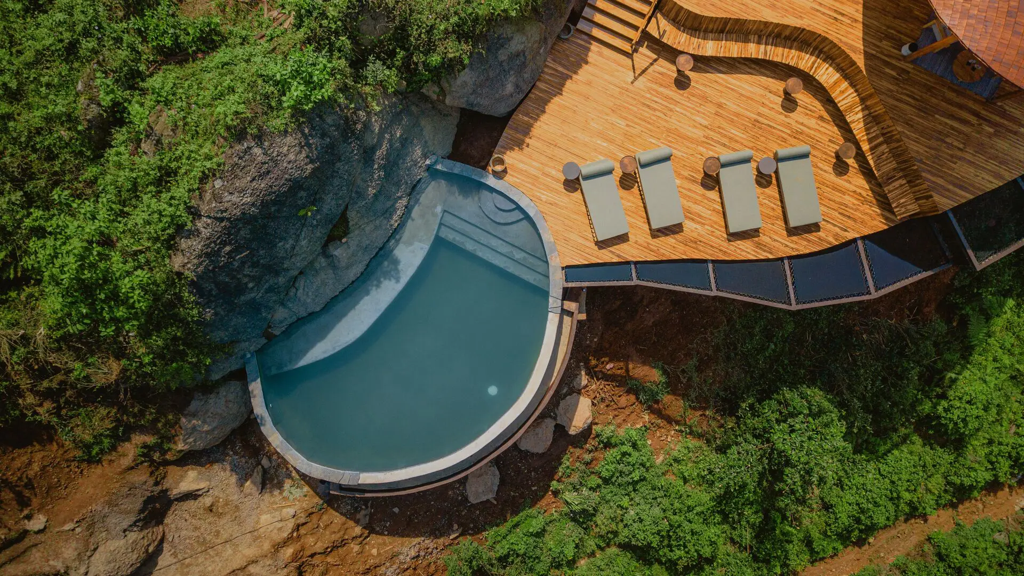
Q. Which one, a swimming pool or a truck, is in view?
swimming pool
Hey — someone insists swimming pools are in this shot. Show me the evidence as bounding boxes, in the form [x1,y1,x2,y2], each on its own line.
[245,155,582,500]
